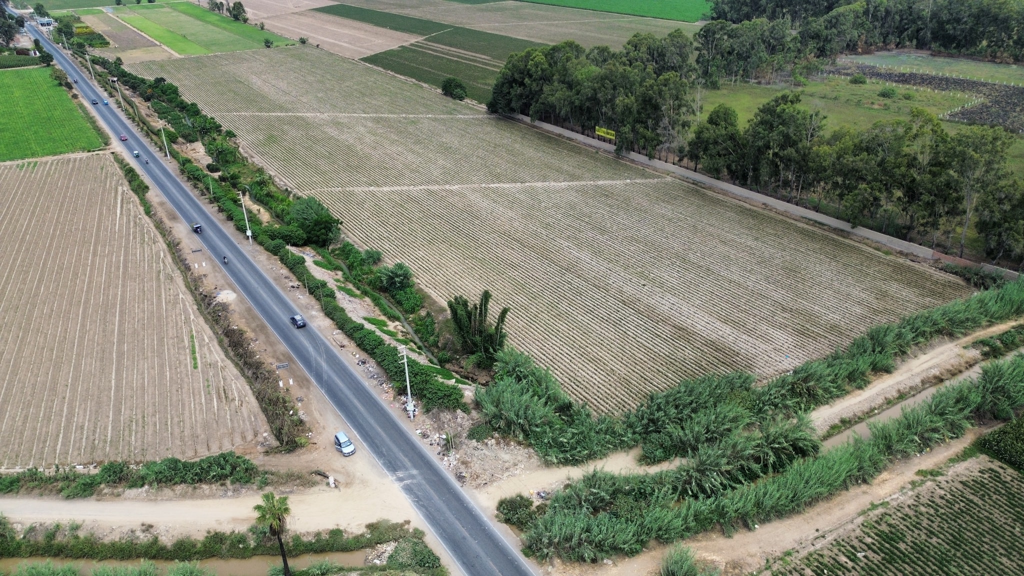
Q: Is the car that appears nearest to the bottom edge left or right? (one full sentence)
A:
You can find the car that appears nearest to the bottom edge on the left side of the picture.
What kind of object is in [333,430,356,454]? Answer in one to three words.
car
